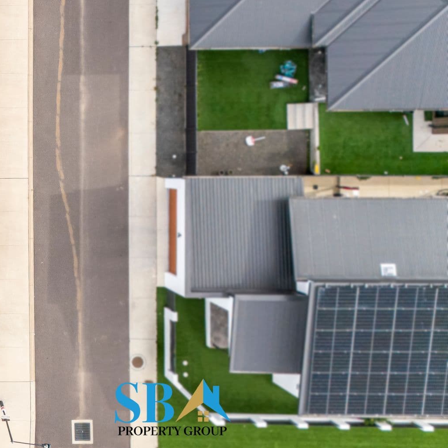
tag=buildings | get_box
[181,0,448,112]
[169,176,448,419]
